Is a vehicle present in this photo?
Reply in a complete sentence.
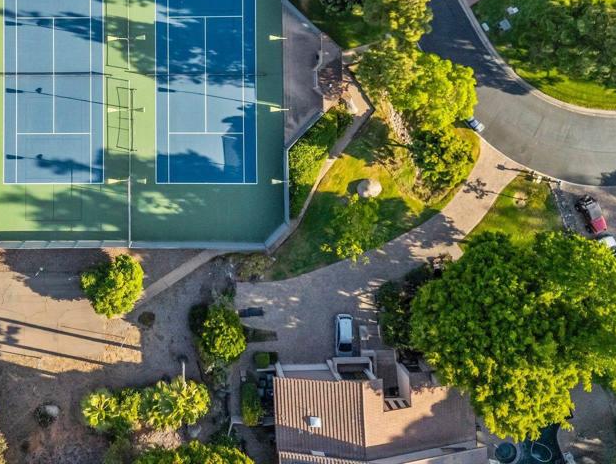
Yes, the picture does show a vehicle.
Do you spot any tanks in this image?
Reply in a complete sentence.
No, no tank is visible in the scene.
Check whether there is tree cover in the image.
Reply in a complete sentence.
Yes, there is tree cover in the image.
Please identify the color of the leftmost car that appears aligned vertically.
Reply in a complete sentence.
The color of the leftmost car that appears aligned vertically is blue.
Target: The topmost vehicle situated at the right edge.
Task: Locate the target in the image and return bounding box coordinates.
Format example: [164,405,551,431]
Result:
[577,195,612,237]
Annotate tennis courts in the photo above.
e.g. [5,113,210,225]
[128,0,285,243]
[0,0,128,243]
